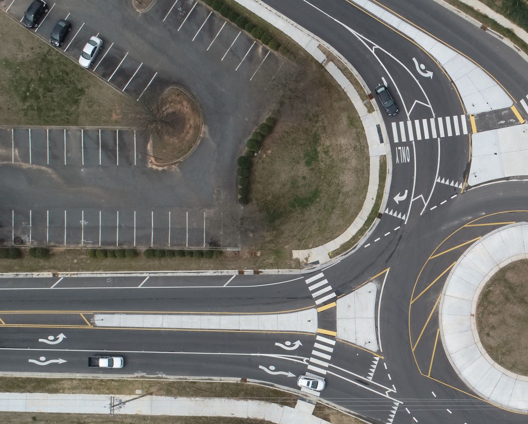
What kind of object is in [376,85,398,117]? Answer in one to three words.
car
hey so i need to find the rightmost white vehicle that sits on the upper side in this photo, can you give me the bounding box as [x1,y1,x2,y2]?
[77,36,102,67]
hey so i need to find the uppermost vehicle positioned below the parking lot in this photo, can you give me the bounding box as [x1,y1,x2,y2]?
[87,356,126,369]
